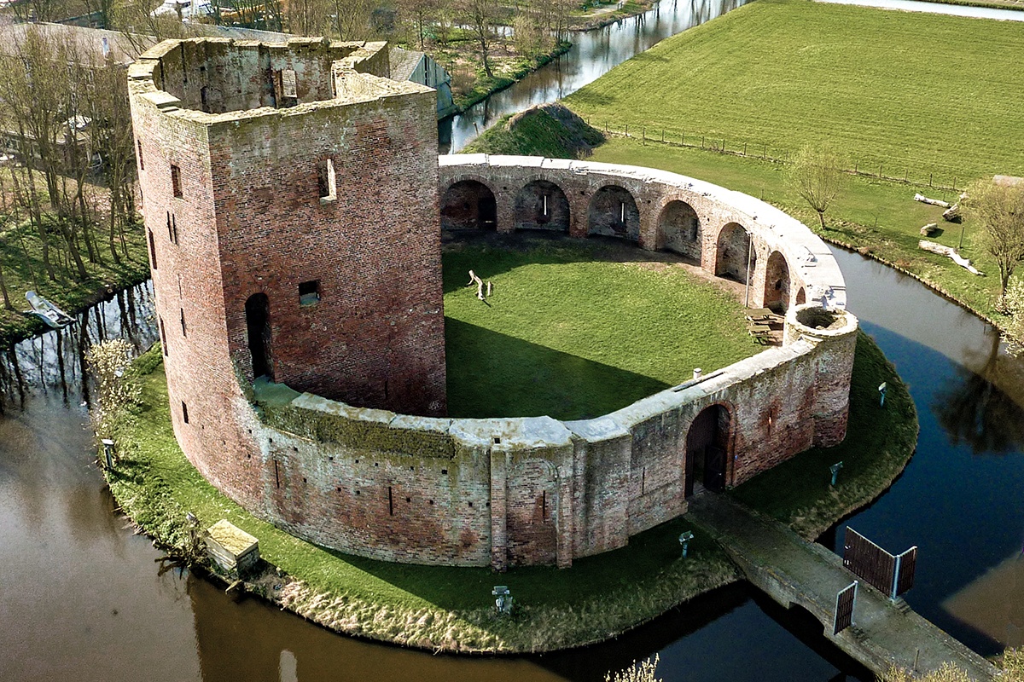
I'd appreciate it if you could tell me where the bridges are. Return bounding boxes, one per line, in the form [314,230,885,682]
[684,483,1022,682]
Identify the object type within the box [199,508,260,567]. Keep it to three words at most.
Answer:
building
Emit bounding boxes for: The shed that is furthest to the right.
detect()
[394,43,452,116]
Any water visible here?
Yes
